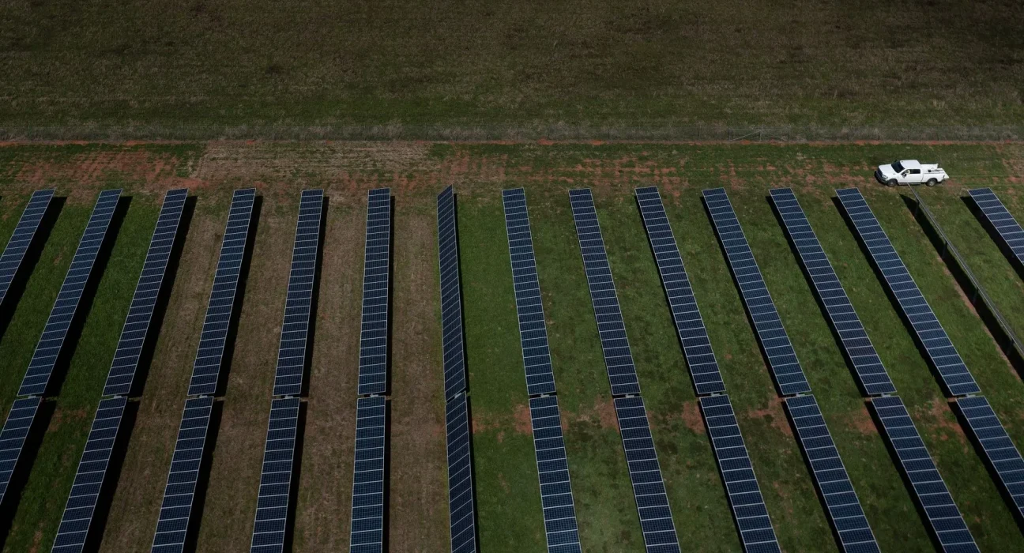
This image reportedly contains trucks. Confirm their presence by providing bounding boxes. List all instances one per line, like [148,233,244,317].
[875,159,948,186]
